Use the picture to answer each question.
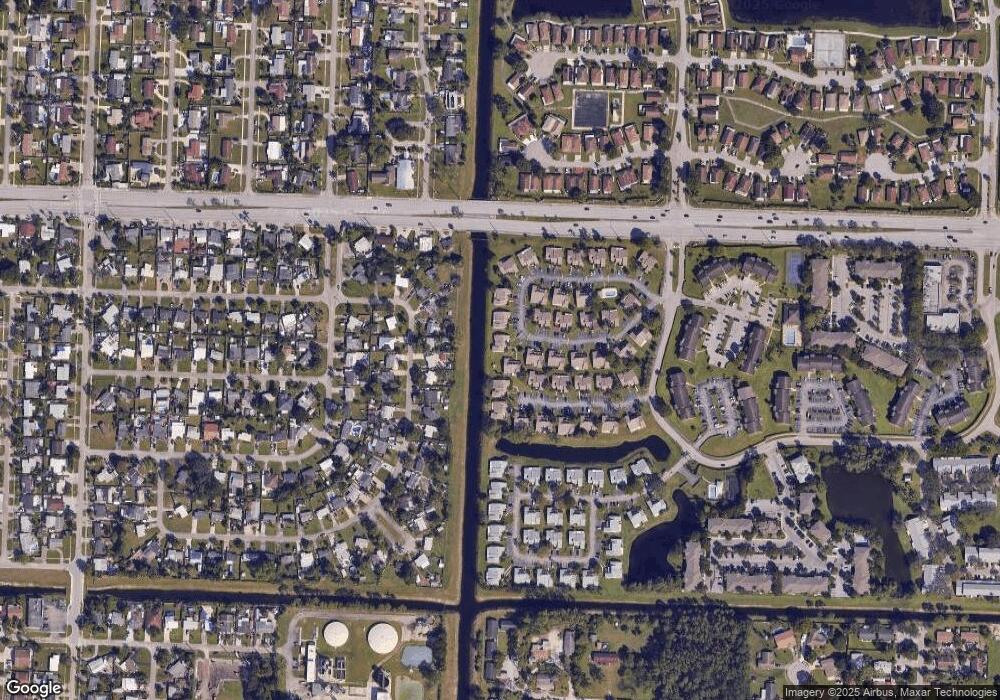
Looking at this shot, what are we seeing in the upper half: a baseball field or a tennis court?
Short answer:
tennis court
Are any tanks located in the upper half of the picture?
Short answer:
No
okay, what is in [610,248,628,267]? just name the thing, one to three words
house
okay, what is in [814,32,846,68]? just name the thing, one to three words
tennis court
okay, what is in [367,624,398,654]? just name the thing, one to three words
storage tank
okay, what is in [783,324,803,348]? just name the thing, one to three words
swimming pool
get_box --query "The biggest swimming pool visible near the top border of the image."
[786,32,804,48]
